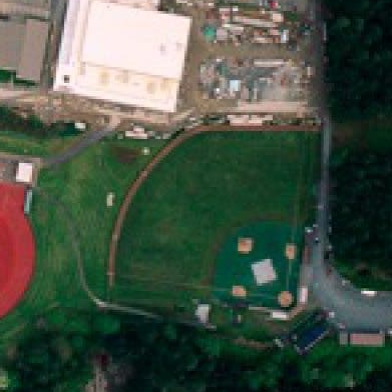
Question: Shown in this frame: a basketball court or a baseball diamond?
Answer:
baseball diamond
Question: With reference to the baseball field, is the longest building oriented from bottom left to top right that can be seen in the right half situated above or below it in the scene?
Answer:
below it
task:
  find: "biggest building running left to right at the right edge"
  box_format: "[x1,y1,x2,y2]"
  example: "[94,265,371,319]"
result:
[350,334,384,346]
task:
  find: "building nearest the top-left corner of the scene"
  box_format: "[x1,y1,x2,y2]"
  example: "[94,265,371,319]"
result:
[0,19,49,83]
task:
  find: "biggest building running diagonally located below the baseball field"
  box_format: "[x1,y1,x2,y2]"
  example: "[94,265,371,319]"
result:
[295,325,331,354]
